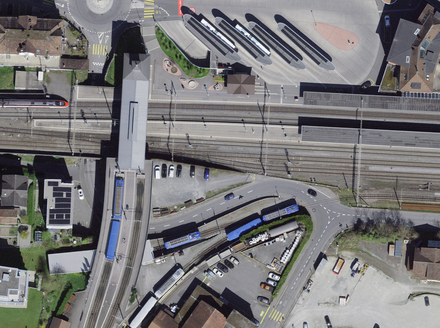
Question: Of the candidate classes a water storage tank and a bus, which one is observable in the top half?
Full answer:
Looking in the top half, you will find a bus.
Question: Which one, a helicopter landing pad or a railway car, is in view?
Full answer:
I can see a railway car in this picture.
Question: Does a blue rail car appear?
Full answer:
Yes, the image includes a blue rail car.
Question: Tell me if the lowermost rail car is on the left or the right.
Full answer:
It is on the left.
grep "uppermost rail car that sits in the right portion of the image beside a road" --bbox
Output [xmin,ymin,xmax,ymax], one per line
[262,204,300,223]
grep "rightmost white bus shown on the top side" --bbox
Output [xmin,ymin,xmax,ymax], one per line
[235,22,272,55]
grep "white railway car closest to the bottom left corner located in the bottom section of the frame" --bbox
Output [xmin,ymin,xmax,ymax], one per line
[128,298,157,328]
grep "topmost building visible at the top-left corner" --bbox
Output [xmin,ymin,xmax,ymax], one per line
[0,16,64,56]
